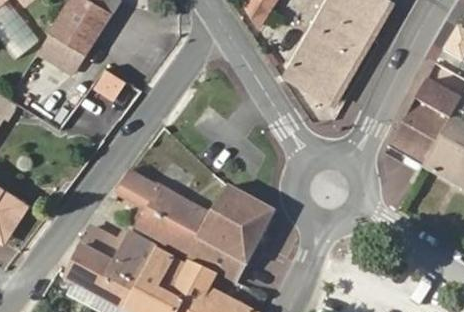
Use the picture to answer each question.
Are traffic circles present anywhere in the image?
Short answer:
Yes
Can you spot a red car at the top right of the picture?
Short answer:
No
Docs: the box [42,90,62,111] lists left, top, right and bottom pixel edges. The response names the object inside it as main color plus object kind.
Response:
white car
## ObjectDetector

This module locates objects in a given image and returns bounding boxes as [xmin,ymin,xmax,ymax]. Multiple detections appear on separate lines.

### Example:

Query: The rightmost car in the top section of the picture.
[390,48,407,70]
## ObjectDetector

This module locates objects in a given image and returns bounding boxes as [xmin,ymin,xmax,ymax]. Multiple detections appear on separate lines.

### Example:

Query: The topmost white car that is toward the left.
[72,80,90,96]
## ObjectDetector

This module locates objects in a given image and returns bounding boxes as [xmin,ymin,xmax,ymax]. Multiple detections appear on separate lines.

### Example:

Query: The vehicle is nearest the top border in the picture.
[282,28,302,52]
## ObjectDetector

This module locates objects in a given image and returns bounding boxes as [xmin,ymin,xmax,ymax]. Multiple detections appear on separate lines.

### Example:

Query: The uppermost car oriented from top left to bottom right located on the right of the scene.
[416,228,437,246]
